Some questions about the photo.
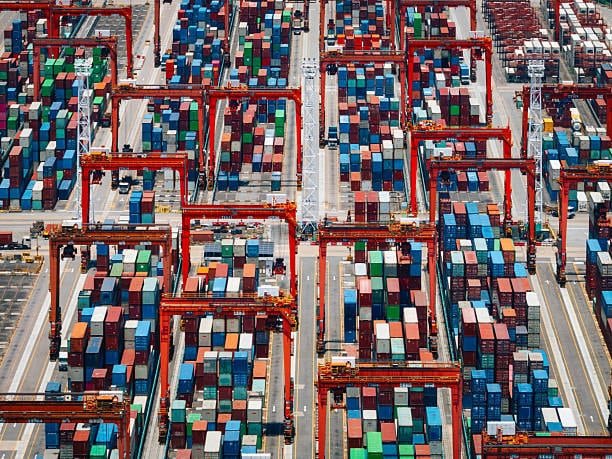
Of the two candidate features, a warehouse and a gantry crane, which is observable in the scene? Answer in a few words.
gantry crane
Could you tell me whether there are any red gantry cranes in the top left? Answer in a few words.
Yes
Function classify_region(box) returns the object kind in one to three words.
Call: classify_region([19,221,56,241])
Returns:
work vehicle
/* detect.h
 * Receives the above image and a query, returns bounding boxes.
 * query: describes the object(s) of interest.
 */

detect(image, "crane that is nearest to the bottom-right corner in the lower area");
[469,417,612,459]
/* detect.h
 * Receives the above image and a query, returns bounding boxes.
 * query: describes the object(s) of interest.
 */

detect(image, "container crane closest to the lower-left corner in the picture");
[0,385,144,459]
